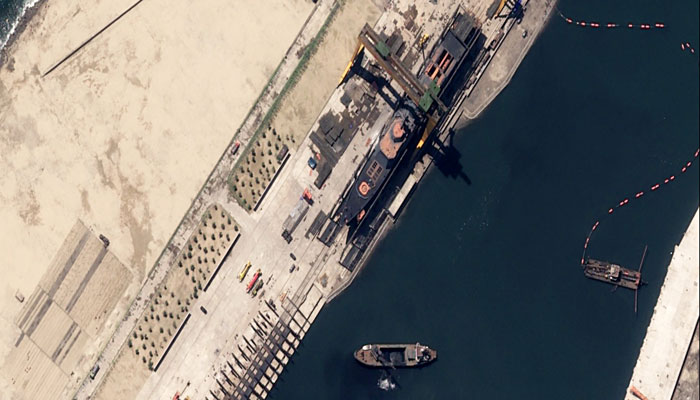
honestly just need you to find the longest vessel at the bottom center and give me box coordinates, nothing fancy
[354,343,437,369]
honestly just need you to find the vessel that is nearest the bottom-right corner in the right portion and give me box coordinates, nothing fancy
[584,245,649,312]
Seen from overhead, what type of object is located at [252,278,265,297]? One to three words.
vehicle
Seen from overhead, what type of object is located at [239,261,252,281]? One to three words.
vehicle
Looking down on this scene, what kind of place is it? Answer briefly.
port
